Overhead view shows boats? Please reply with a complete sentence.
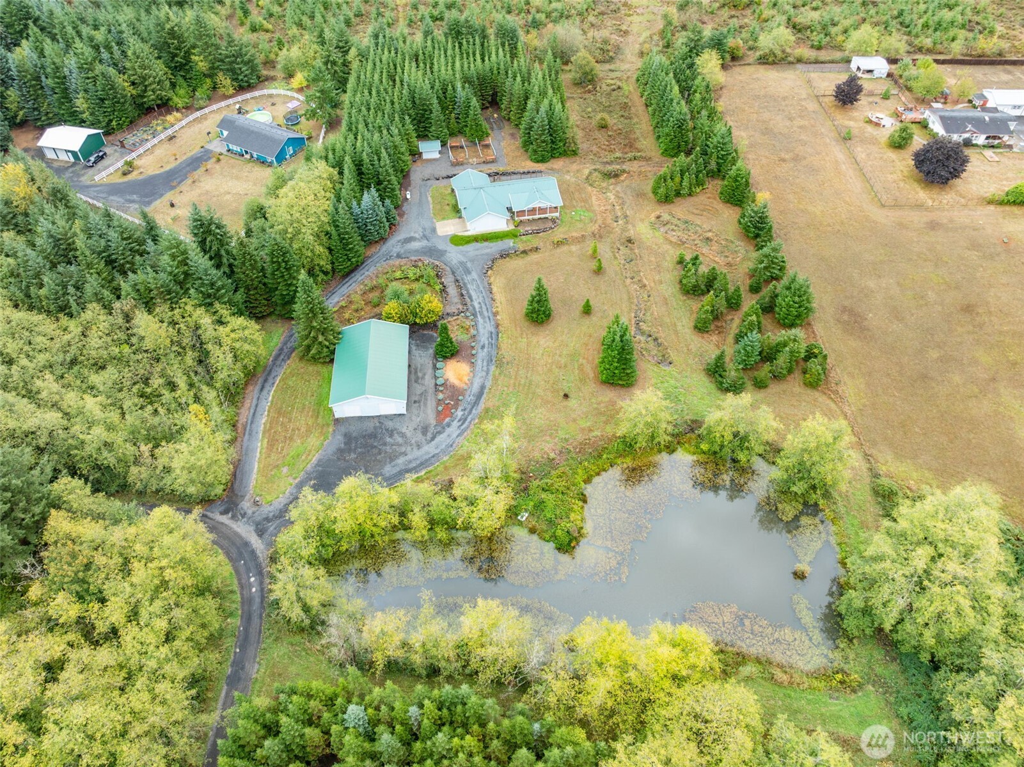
No, I find no boat anywhere in the image.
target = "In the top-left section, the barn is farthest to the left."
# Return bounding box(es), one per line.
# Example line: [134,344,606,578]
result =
[37,125,107,163]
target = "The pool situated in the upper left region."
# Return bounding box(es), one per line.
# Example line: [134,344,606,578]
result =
[245,108,273,122]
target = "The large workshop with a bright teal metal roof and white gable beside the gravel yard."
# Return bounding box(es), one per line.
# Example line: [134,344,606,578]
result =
[329,318,410,418]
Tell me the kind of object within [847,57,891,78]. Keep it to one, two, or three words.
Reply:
shed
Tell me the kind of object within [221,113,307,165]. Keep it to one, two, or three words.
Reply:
house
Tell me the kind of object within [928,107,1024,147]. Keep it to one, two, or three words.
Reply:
house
